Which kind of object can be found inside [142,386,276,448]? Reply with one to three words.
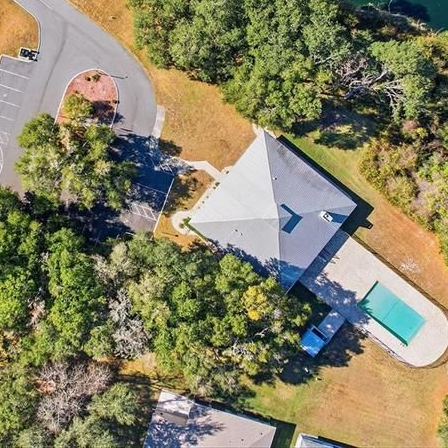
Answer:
house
